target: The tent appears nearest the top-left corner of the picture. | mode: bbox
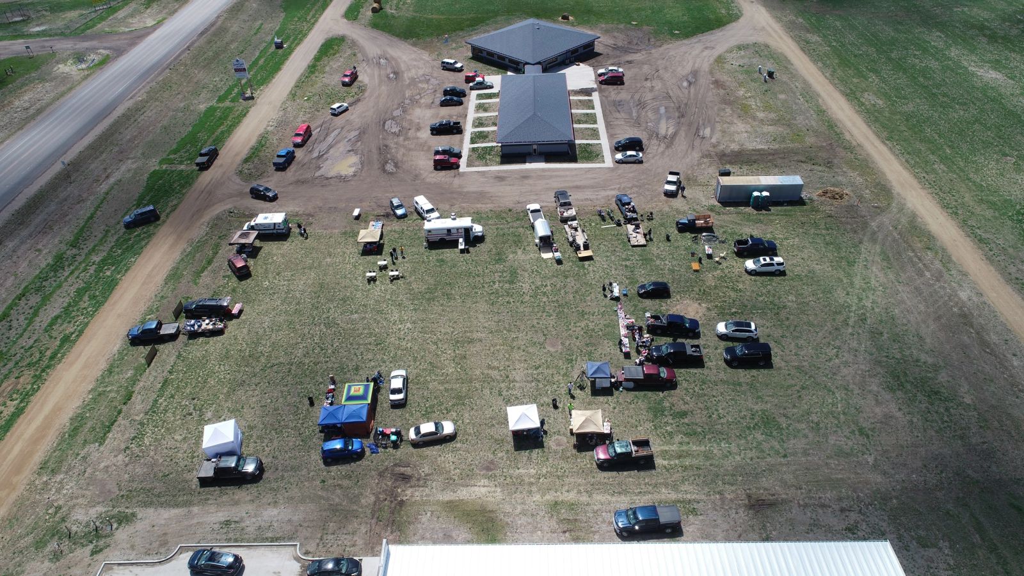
[229,231,261,256]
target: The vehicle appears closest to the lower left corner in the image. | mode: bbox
[186,548,244,576]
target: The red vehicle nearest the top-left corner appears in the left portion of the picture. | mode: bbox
[293,124,312,142]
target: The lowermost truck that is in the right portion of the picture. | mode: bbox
[613,507,686,538]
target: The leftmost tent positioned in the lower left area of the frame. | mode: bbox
[203,419,240,459]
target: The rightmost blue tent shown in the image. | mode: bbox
[586,362,610,391]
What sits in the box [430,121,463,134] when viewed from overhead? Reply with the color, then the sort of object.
black vehicle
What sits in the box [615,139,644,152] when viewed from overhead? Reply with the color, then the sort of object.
black vehicle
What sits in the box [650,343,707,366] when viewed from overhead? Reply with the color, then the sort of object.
black truck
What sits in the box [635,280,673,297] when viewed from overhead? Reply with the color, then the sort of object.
black car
